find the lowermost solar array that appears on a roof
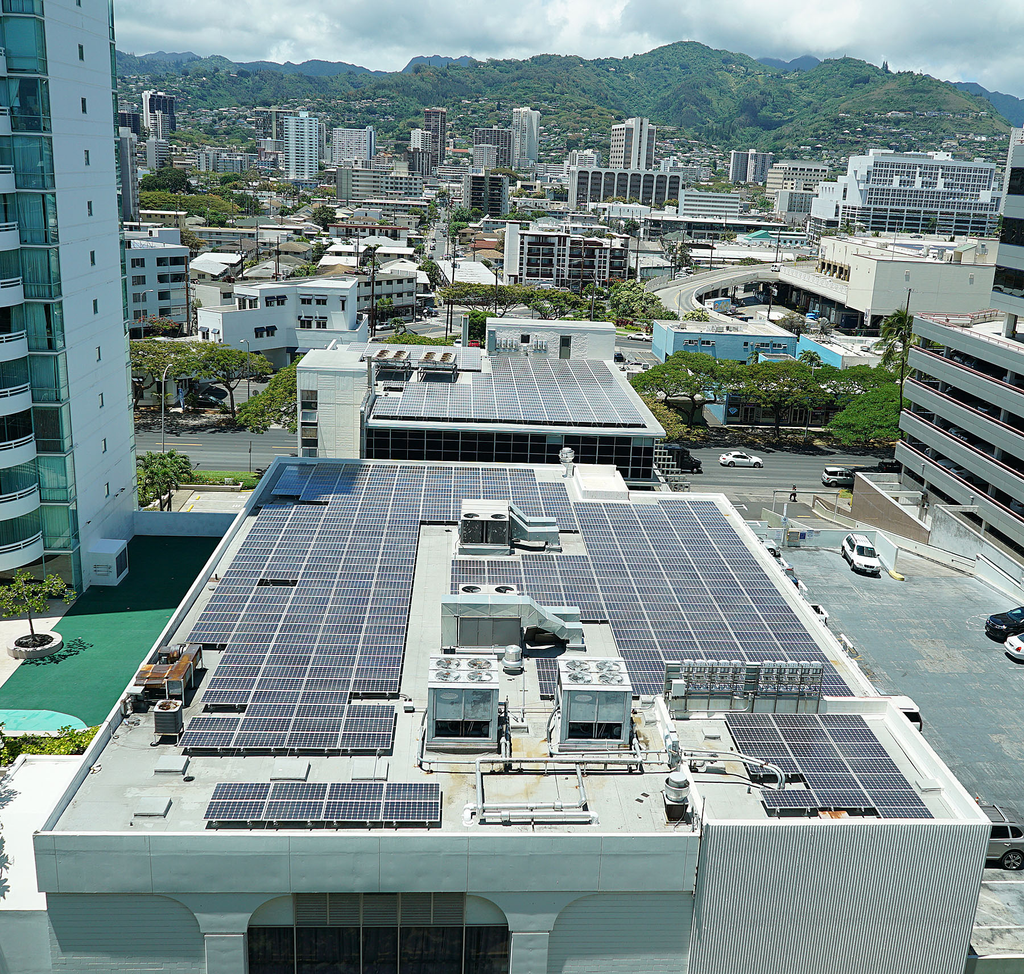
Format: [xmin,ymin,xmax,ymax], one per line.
[203,783,442,834]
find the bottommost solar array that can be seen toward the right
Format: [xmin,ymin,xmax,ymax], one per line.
[723,714,938,815]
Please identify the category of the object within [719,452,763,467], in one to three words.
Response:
car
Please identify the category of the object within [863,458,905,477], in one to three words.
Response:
vehicle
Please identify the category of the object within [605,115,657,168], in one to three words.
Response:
building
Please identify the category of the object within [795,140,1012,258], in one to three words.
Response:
building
